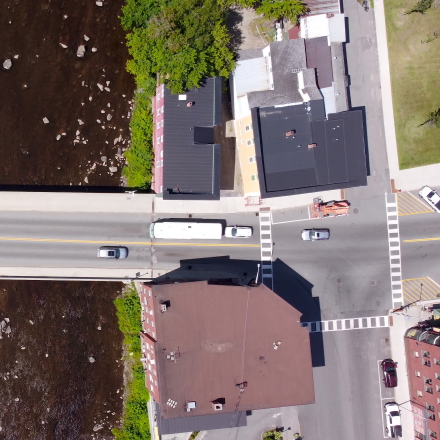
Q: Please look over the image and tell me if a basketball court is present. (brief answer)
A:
No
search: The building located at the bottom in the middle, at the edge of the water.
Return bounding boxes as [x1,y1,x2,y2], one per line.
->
[139,278,315,434]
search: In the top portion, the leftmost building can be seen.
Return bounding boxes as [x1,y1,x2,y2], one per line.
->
[152,65,221,202]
